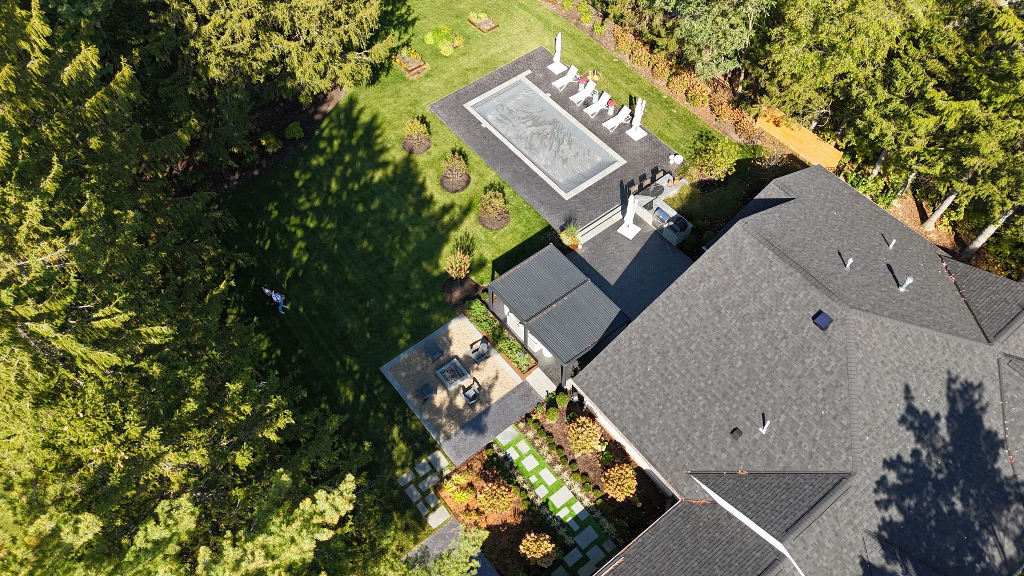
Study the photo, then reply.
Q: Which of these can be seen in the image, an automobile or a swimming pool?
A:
swimming pool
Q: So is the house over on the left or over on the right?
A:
right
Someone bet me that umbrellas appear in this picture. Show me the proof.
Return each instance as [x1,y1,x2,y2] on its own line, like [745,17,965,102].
[625,96,651,139]
[617,195,645,238]
[546,32,568,75]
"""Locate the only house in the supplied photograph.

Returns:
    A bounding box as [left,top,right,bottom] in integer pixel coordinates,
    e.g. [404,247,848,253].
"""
[567,161,1024,576]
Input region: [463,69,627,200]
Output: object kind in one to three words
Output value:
swimming pool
